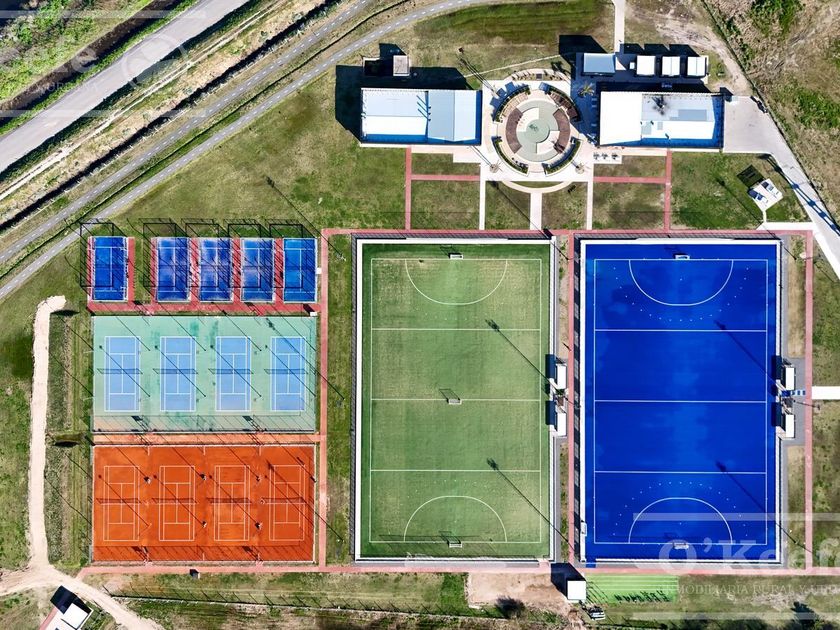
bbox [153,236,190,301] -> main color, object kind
blue sports court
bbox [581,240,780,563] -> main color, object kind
blue sports field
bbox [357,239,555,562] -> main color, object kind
green sports field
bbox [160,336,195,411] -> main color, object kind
blue tennis court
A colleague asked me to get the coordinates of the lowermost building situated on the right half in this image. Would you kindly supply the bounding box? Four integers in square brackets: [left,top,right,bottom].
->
[564,578,587,602]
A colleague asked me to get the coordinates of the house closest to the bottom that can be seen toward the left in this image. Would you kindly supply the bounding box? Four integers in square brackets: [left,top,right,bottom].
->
[62,600,90,630]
